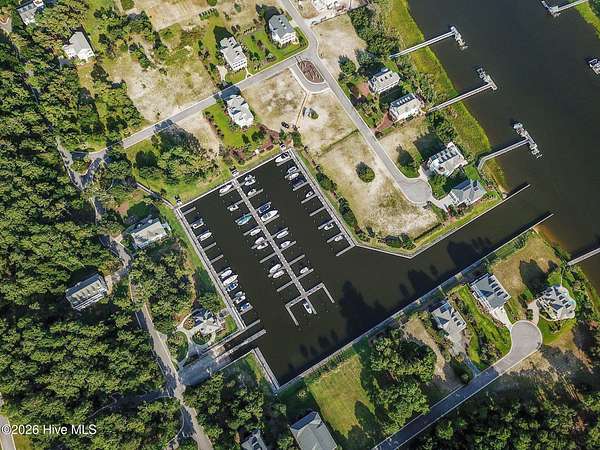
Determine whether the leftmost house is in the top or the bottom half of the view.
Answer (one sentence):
The leftmost house is in the top half of the image.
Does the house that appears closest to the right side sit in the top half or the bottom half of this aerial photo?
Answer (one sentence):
Seen from above, the house that appears closest to the right side lies in the bottom half of the view.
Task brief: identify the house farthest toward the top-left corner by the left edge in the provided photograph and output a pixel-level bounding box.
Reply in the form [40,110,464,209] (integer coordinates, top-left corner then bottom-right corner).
[16,0,47,29]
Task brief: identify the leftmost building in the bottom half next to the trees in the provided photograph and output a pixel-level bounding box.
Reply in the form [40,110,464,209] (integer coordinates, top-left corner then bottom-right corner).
[67,275,111,308]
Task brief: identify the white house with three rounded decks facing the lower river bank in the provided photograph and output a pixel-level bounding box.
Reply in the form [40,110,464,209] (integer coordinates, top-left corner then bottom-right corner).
[533,285,577,322]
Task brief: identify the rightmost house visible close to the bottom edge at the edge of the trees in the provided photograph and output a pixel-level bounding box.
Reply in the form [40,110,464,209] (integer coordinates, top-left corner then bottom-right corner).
[294,412,341,450]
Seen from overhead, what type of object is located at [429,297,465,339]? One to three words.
house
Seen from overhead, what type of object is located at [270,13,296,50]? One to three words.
house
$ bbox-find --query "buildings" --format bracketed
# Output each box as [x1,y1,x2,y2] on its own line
[16,0,47,29]
[294,412,341,450]
[190,306,230,338]
[219,34,250,77]
[446,179,487,206]
[124,215,172,250]
[67,275,111,308]
[465,271,507,308]
[270,13,296,50]
[429,297,465,339]
[315,0,346,14]
[533,285,577,322]
[363,68,401,100]
[64,32,101,64]
[244,427,273,450]
[226,94,254,130]
[386,93,425,125]
[425,144,468,176]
